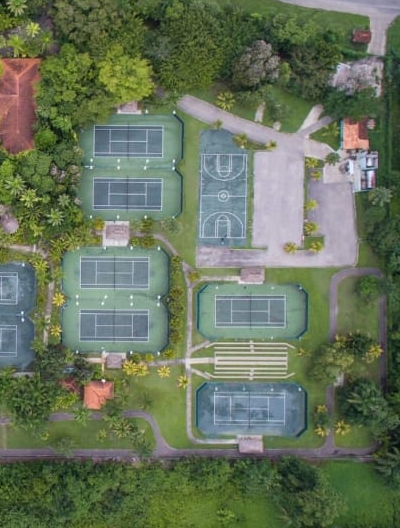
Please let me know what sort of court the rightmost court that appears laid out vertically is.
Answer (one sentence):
The rightmost court that appears laid out vertically is a basketball court.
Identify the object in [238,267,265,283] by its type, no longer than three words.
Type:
shed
